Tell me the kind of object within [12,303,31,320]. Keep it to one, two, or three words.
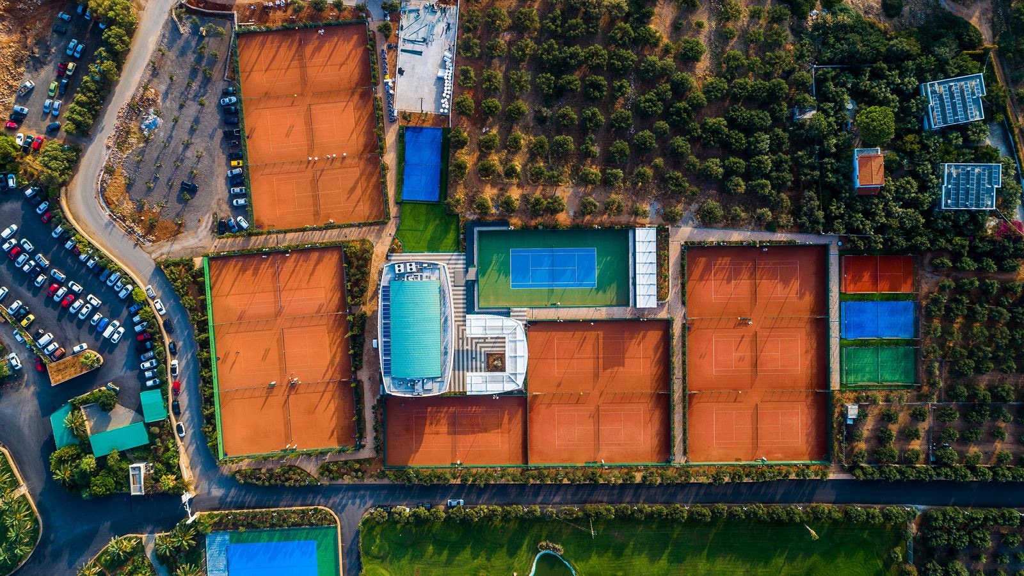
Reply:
vehicle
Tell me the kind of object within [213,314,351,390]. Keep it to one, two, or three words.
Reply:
tennis court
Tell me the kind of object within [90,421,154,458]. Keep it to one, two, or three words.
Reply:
building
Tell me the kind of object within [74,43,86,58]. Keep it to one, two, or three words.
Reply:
vehicle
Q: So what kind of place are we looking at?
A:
sports ground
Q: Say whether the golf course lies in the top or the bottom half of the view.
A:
bottom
